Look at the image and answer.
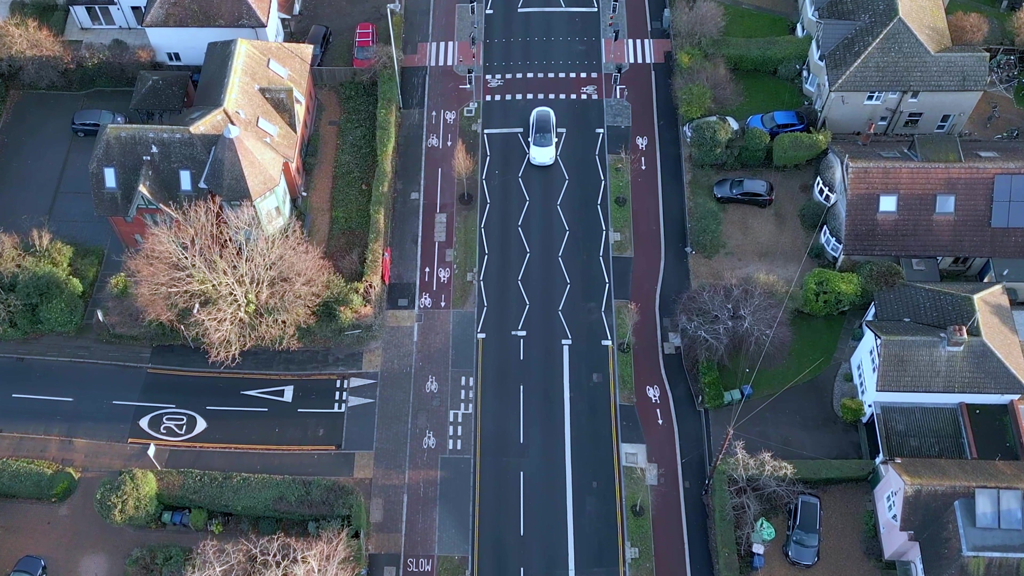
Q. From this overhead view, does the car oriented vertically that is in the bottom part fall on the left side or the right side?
right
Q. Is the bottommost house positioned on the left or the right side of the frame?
right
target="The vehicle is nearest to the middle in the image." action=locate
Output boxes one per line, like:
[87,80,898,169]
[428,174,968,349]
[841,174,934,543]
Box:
[528,109,558,167]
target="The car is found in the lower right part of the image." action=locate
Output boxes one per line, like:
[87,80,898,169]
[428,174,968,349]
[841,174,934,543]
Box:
[785,491,823,571]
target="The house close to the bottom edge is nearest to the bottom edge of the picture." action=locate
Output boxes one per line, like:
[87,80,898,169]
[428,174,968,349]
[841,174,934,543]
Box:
[876,461,1024,576]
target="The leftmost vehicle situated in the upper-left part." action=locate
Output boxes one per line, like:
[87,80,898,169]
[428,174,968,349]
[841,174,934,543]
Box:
[70,107,130,138]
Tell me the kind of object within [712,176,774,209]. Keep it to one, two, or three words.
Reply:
car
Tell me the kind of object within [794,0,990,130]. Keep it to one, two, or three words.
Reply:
house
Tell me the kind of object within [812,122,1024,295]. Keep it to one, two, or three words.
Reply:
house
